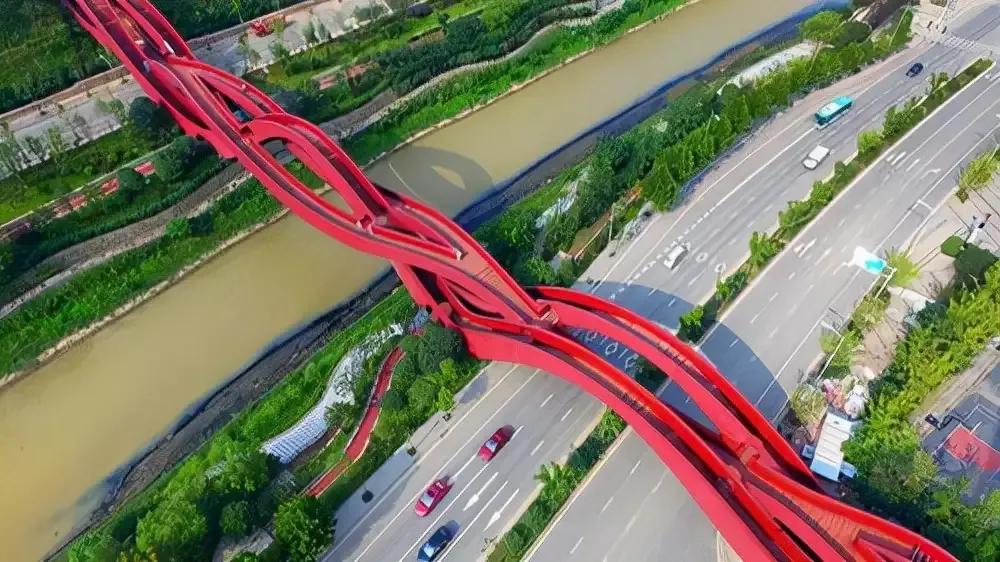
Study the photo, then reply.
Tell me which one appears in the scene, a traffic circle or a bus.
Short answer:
bus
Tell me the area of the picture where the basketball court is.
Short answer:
bottom right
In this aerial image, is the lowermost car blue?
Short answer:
Yes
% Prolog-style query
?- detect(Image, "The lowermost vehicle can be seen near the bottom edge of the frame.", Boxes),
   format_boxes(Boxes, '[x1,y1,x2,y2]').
[414,518,457,562]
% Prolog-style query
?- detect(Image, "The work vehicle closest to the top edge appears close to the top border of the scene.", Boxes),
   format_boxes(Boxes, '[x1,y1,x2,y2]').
[247,12,273,36]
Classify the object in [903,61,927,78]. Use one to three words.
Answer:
car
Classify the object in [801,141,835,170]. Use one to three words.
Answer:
van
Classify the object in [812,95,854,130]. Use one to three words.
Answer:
bus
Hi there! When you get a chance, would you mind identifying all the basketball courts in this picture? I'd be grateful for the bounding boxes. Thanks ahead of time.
[915,371,1000,490]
